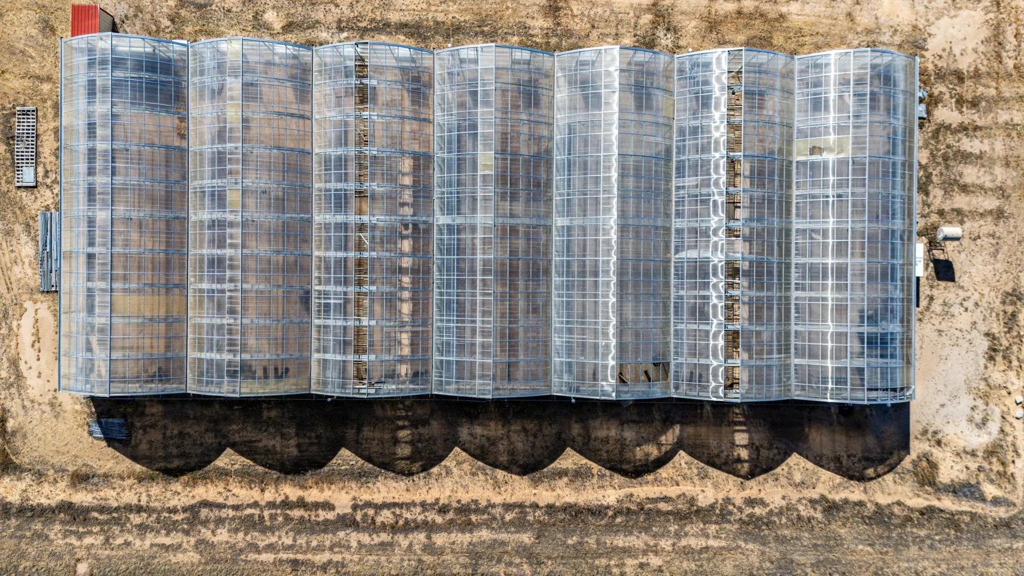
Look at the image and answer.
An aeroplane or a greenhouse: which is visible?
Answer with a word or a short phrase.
greenhouse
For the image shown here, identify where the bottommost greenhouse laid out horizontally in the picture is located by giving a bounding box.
[56,29,921,406]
